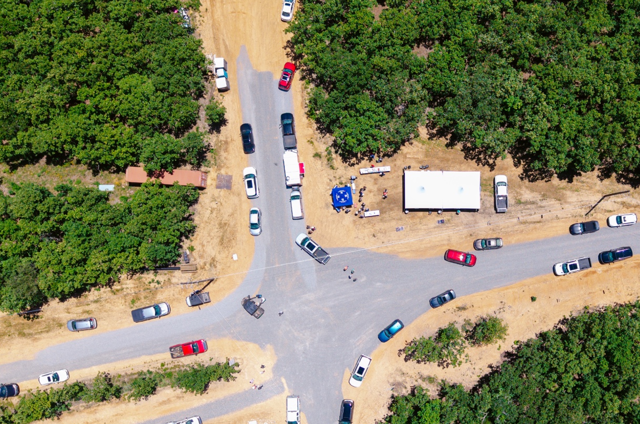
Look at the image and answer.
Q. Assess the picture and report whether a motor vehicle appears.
Yes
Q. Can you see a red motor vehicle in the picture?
Yes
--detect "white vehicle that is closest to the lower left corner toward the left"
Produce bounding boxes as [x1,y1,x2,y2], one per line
[37,369,71,386]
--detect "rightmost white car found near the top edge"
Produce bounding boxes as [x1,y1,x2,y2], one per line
[281,0,296,22]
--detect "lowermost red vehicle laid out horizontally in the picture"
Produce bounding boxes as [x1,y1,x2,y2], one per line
[168,340,209,360]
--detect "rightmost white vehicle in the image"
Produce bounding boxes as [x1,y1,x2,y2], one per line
[606,211,638,227]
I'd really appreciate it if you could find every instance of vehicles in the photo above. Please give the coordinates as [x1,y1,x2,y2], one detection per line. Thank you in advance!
[278,61,296,92]
[569,220,600,235]
[187,292,212,310]
[430,288,456,307]
[281,0,296,22]
[284,394,300,424]
[0,383,20,399]
[279,112,297,150]
[244,167,260,198]
[290,190,305,220]
[444,248,478,267]
[296,233,333,267]
[130,302,171,323]
[240,123,256,154]
[494,175,510,216]
[241,296,264,318]
[349,354,371,388]
[474,237,503,251]
[606,211,638,227]
[552,256,593,276]
[37,369,71,386]
[597,246,634,263]
[168,340,209,360]
[378,319,404,341]
[66,317,98,332]
[170,416,203,424]
[338,398,354,424]
[247,207,262,236]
